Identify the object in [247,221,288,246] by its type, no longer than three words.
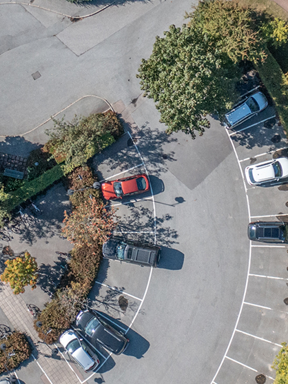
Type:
car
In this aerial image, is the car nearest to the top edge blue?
Yes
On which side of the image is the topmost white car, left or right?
right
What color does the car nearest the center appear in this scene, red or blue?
red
